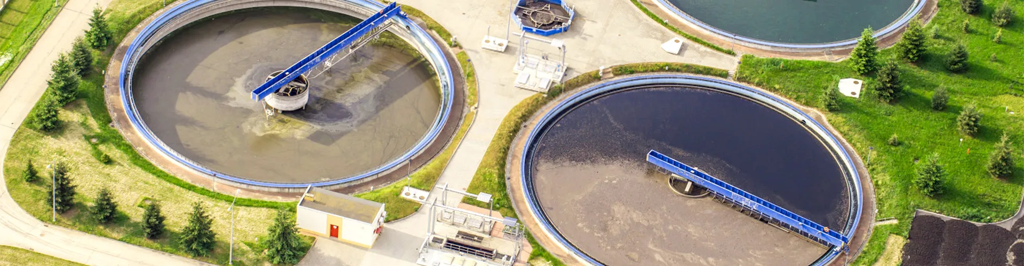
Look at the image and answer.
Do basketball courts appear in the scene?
No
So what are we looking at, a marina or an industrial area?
industrial area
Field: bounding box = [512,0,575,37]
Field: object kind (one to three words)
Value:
storage tank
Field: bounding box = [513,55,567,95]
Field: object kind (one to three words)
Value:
building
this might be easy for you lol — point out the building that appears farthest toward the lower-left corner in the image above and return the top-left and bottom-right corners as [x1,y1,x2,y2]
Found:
[297,183,385,248]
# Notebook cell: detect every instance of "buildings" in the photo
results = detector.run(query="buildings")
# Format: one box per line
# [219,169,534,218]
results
[513,55,567,95]
[297,183,385,248]
[415,210,521,266]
